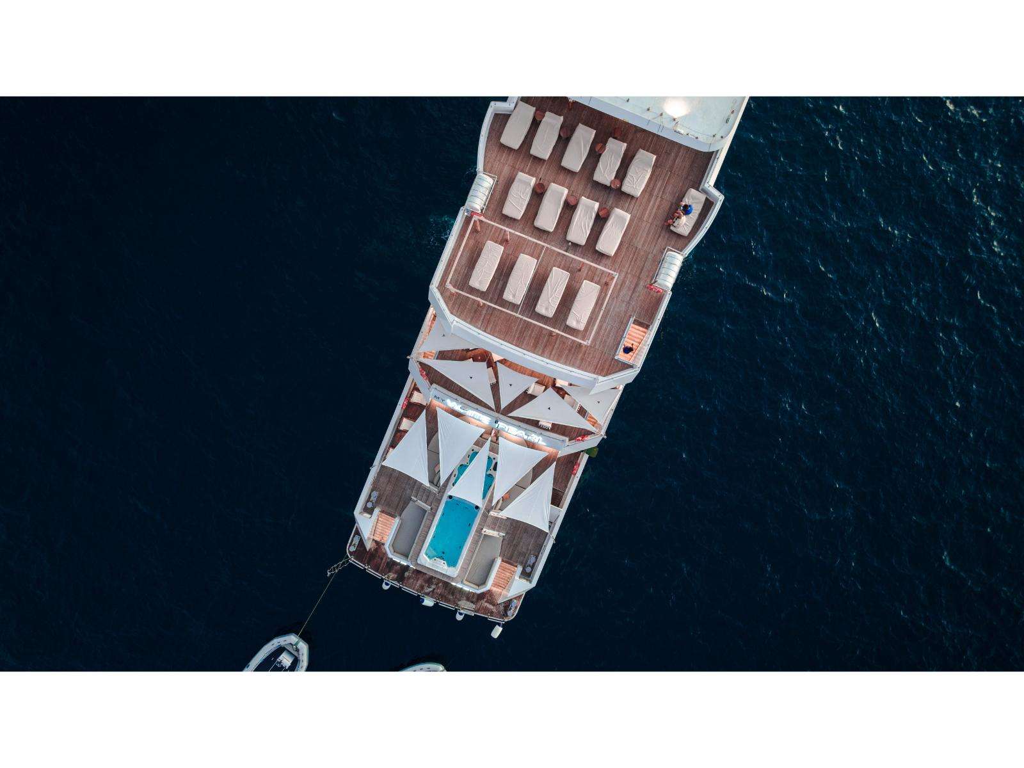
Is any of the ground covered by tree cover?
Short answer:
No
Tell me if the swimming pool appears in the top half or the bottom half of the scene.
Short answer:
bottom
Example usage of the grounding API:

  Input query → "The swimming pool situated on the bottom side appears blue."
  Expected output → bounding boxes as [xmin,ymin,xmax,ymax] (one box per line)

[418,445,498,576]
